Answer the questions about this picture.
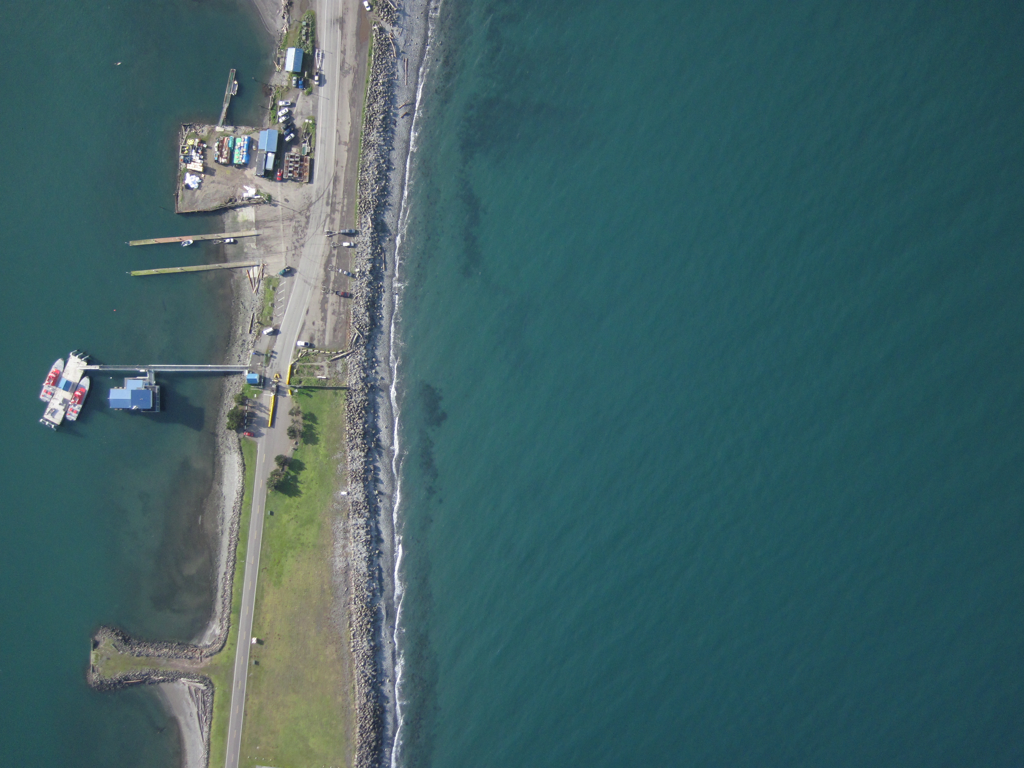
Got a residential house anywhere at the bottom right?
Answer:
No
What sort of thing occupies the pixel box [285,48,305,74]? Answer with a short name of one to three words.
shed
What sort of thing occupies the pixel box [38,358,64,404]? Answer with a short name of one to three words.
boat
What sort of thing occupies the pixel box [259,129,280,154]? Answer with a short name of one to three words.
building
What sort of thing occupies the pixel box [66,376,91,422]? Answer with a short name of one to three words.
boat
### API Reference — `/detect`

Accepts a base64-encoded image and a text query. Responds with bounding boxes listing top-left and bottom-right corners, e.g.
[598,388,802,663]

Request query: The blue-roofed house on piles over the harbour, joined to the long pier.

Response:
[108,378,160,412]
